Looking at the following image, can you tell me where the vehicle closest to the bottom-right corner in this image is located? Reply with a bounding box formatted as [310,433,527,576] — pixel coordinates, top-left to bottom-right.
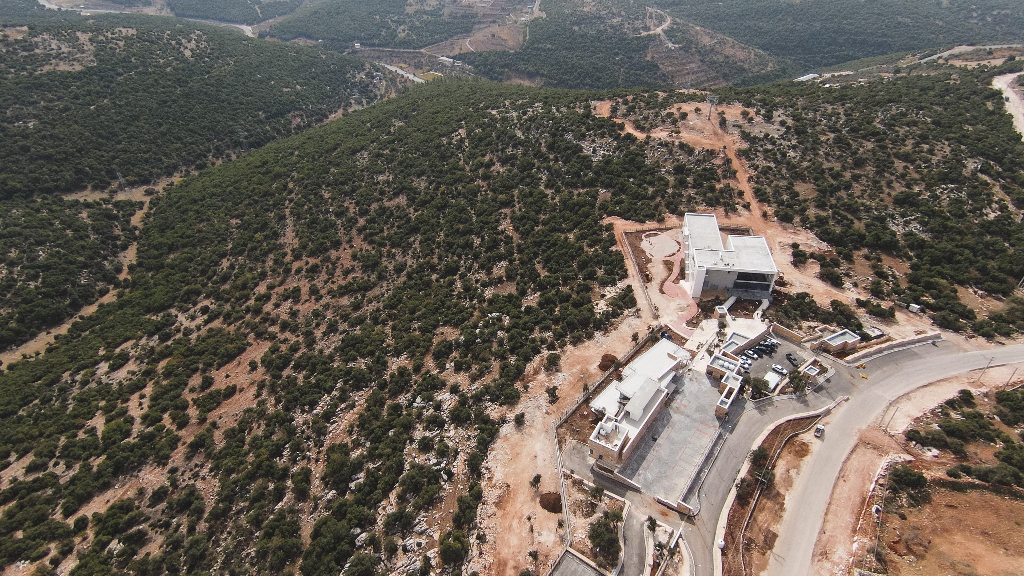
[813,422,827,439]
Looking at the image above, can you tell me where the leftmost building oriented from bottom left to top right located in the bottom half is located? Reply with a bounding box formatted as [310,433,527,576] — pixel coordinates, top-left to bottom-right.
[588,336,682,468]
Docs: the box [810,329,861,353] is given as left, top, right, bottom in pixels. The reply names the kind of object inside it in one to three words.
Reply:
house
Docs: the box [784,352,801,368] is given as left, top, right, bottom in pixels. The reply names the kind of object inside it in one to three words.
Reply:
vehicle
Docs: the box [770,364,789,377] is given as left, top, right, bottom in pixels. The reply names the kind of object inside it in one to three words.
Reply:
vehicle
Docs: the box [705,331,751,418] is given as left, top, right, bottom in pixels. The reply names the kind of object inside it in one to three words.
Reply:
building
